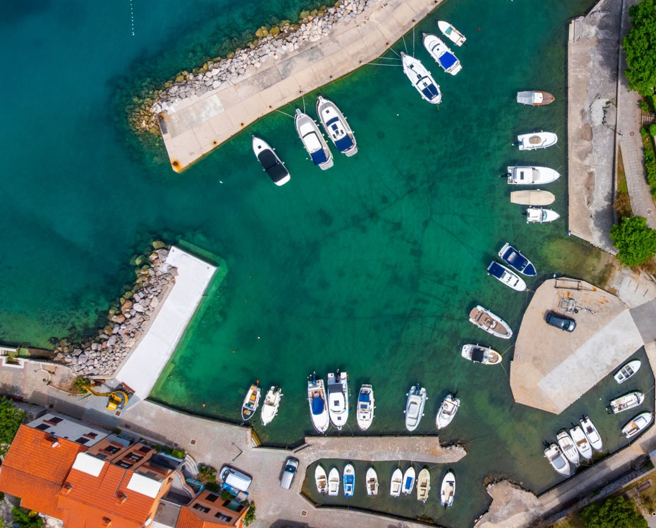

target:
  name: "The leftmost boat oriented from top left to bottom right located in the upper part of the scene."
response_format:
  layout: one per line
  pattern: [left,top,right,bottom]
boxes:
[242,124,290,189]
